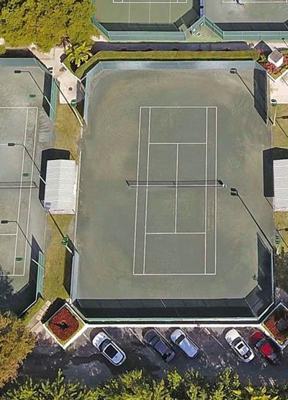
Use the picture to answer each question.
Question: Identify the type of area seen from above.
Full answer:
This looks like a sports ground.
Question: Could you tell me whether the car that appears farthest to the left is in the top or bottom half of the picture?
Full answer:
You can find the car that appears farthest to the left in the bottom half.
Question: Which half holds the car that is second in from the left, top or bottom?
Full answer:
The bottom half of the photo is where the car that is second in from the left is.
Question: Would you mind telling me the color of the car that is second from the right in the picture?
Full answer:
From above, the car that is second from the right appears white.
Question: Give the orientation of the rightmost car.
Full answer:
What the image shows is the rightmost car lying on a diagonal.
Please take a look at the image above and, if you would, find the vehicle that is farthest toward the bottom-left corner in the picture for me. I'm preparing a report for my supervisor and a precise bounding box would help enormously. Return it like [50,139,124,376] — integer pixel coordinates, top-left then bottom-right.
[92,330,127,366]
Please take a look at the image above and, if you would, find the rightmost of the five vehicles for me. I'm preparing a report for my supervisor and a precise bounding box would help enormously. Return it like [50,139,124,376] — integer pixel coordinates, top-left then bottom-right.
[249,330,281,365]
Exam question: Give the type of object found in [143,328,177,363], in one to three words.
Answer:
car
